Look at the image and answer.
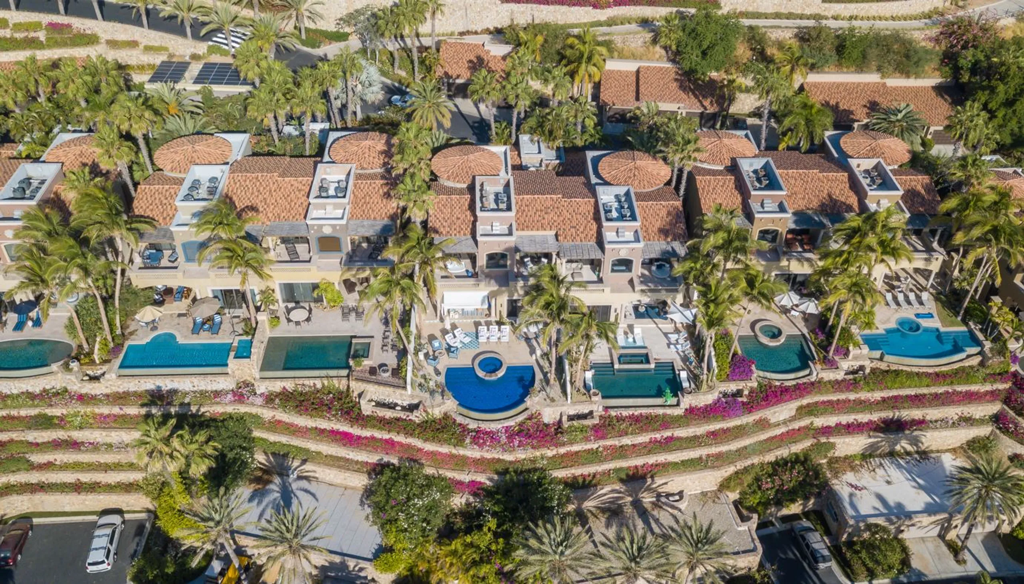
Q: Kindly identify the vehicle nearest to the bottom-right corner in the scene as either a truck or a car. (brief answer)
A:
car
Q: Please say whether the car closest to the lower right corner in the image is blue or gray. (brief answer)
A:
gray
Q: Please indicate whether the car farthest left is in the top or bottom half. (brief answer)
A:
bottom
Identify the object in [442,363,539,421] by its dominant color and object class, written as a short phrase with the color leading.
blue swimming pool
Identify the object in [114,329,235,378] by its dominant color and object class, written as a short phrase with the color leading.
blue swimming pool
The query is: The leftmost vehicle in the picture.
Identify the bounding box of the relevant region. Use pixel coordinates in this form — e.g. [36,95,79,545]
[0,513,41,573]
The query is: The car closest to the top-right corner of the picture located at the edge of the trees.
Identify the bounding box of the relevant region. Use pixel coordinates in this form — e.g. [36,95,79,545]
[728,113,757,138]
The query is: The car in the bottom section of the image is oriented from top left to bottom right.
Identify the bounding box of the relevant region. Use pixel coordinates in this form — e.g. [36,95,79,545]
[786,516,839,579]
